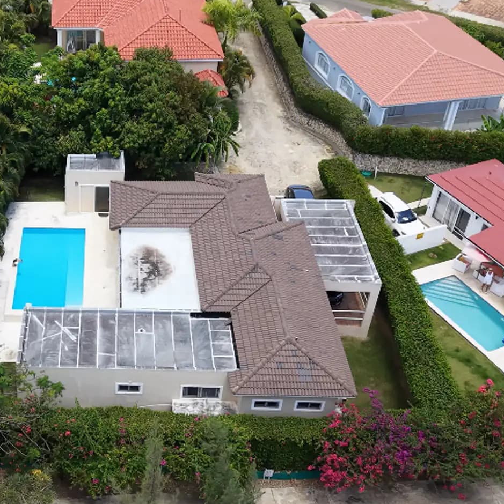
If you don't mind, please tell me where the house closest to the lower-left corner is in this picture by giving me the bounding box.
[18,152,381,425]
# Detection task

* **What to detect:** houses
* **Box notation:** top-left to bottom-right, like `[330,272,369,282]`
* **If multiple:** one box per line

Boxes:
[18,152,381,425]
[302,7,504,130]
[51,0,224,73]
[426,159,504,275]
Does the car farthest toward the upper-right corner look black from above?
No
